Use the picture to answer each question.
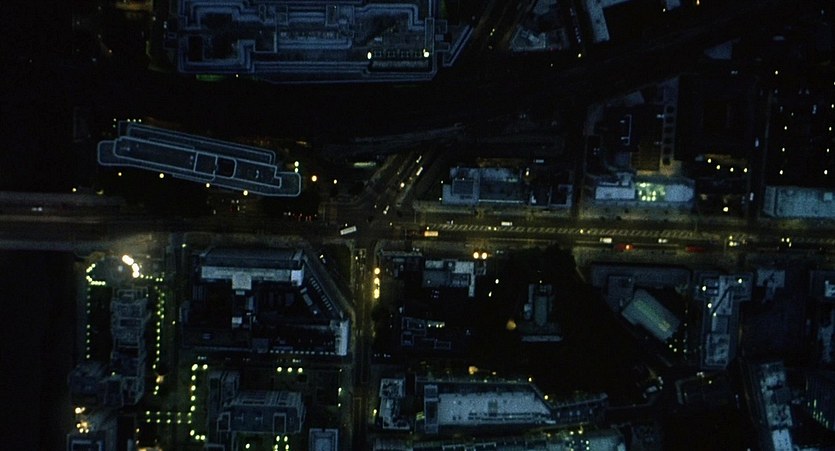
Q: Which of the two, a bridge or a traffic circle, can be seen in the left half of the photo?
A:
bridge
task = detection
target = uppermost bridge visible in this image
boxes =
[0,0,835,126]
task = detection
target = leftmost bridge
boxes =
[0,190,86,248]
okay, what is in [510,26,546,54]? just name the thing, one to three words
building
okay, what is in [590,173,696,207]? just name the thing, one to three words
building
